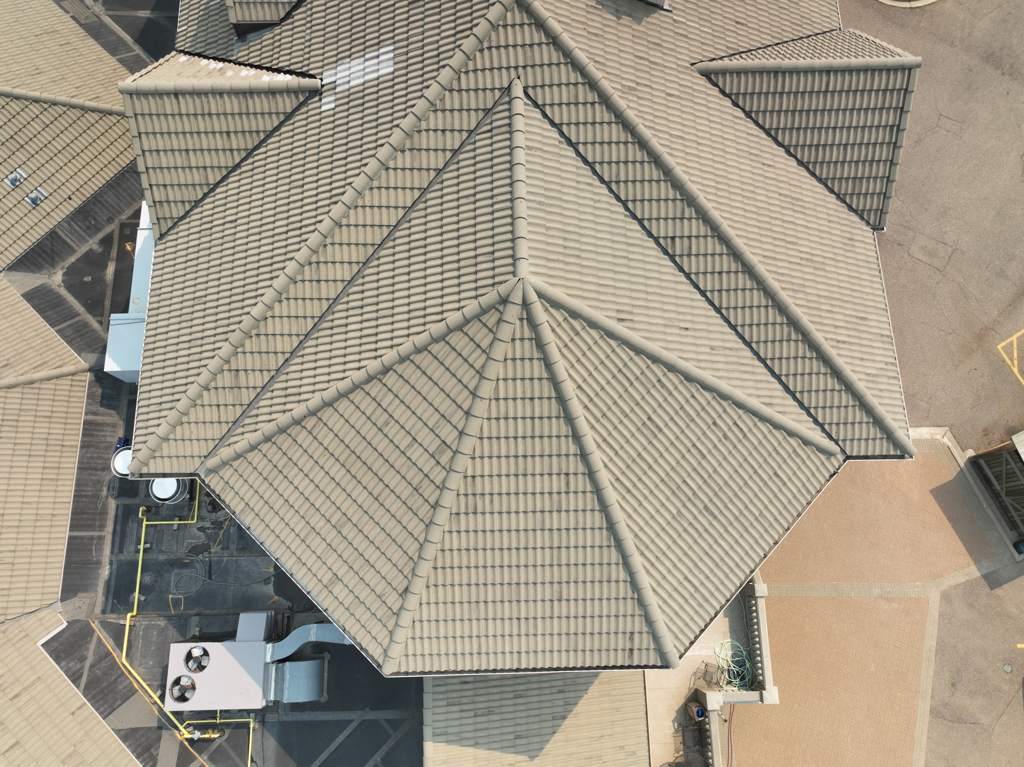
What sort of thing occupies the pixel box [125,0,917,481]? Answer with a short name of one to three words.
building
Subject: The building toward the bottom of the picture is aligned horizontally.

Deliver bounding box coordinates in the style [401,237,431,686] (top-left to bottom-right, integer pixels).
[424,670,654,767]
